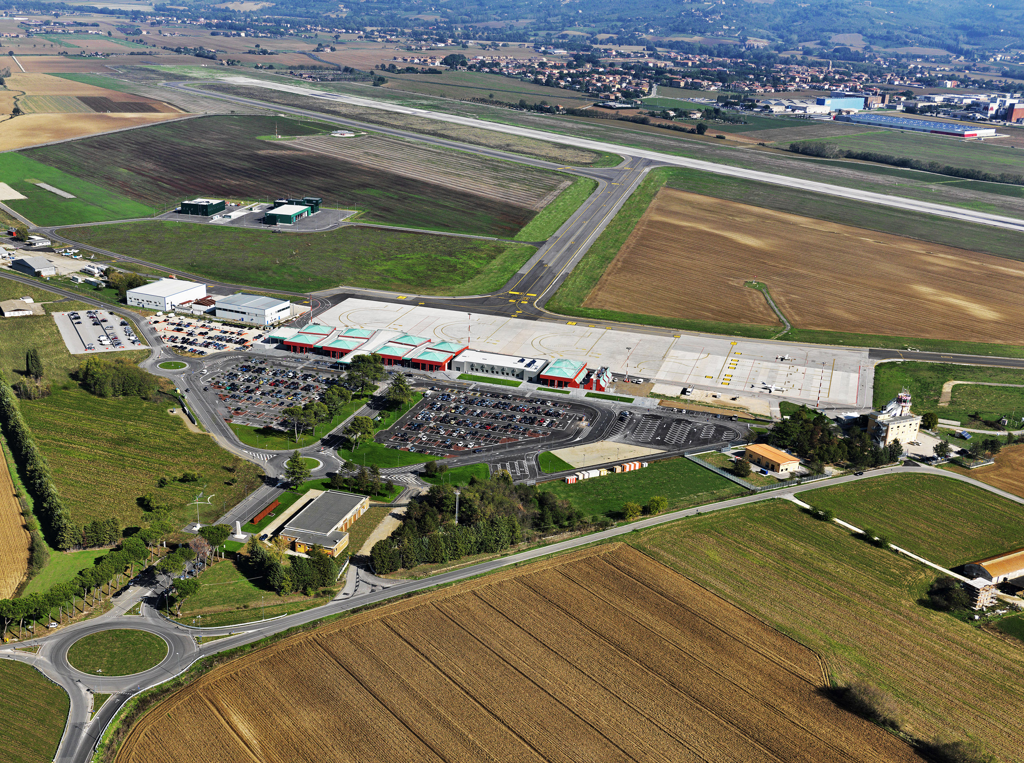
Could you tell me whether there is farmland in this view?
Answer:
Yes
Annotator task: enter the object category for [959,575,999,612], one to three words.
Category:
house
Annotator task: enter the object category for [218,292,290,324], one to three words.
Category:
hangar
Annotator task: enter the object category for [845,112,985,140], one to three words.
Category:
building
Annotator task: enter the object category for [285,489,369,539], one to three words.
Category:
building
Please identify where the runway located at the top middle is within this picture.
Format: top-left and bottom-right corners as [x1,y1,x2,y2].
[217,77,1024,231]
